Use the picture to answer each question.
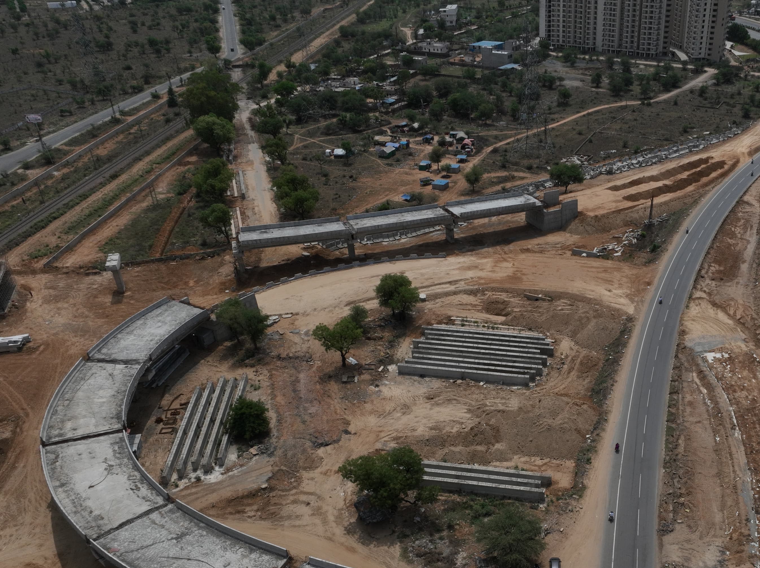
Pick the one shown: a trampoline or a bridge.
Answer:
bridge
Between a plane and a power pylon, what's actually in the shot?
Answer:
power pylon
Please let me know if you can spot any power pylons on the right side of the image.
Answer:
Yes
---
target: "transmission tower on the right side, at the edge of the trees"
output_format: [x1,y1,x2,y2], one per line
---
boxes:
[512,30,554,165]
